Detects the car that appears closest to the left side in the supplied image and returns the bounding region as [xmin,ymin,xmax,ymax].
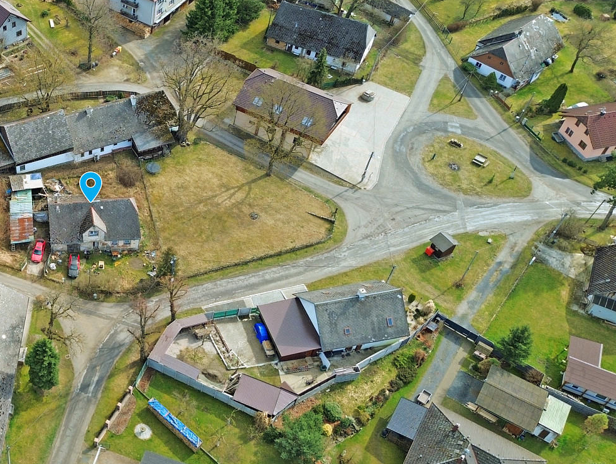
[31,237,46,262]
